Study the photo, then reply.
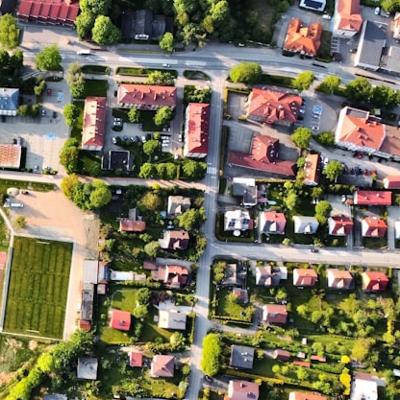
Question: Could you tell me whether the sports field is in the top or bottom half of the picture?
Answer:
bottom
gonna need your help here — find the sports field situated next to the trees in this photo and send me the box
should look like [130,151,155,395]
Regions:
[0,234,74,340]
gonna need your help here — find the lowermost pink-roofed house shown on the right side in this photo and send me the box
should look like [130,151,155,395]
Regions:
[232,379,259,400]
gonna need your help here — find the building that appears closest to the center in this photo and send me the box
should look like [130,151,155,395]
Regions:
[165,193,191,215]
